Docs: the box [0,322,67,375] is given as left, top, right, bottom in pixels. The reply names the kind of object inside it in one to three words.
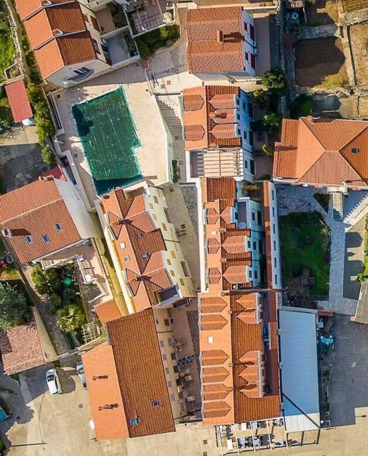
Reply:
house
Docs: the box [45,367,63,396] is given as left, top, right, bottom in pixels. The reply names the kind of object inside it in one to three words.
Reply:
car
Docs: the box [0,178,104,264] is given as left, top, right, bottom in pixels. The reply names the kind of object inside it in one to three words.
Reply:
house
